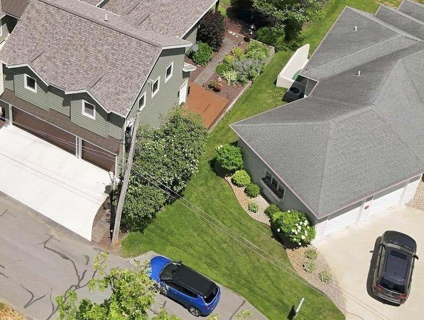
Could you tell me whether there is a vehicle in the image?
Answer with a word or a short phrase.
Yes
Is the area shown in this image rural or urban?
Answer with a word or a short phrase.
urban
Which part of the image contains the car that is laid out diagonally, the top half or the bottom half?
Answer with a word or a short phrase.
bottom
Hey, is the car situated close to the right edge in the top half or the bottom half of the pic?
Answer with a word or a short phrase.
bottom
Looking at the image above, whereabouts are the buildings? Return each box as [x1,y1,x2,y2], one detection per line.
[0,0,220,167]
[228,0,424,242]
